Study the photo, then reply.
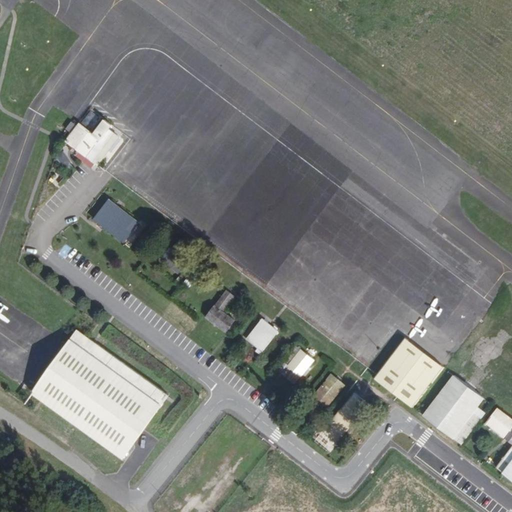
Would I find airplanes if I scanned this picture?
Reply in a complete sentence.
Yes, you can see an airplane in this photo.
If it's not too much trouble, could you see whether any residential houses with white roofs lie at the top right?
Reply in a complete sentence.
No, there is no residential house with a white roof at the top right.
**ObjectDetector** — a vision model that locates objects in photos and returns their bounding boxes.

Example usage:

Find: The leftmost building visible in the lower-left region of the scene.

[32,330,168,459]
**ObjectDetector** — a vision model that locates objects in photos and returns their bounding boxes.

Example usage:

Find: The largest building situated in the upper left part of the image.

[66,110,124,168]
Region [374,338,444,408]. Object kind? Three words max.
hangar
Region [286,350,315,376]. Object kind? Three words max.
house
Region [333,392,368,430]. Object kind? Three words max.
house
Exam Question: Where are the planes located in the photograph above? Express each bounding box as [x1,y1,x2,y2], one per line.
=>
[0,306,10,322]
[410,318,426,338]
[426,298,442,318]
